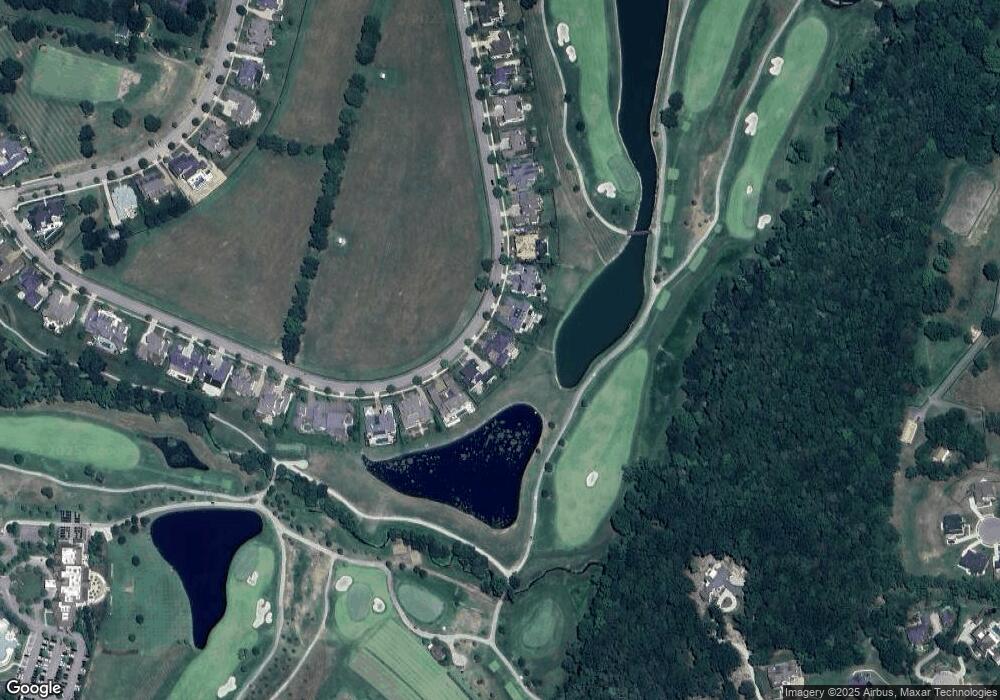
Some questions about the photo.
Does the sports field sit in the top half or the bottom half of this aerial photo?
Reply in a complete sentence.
The top half of the photo is where the sports field is.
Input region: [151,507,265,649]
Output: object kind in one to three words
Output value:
pond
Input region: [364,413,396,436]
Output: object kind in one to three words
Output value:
house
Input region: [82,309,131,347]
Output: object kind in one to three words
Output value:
house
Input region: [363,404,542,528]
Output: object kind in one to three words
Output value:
pond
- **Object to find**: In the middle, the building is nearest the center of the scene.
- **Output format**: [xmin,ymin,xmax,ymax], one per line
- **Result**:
[479,330,517,369]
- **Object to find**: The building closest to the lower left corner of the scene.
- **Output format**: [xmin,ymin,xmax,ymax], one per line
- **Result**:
[45,541,105,634]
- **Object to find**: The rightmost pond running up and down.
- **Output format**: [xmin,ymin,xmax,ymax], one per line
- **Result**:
[554,0,669,389]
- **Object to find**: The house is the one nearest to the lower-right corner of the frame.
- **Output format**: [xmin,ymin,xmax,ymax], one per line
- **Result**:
[967,620,1000,658]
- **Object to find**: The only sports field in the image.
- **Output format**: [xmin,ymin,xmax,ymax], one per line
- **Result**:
[32,46,142,103]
